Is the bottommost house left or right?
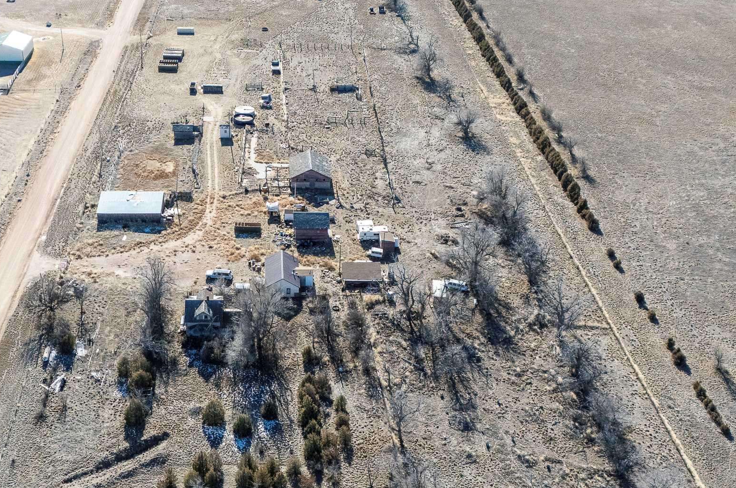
left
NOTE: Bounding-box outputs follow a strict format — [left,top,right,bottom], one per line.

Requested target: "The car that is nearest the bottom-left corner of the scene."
[204,267,233,281]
